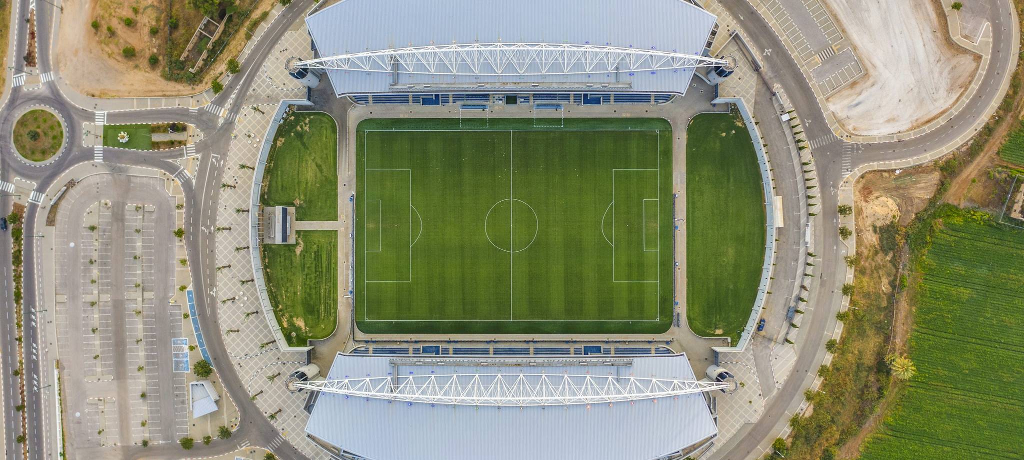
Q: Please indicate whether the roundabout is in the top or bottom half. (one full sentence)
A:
The roundabout sits in the top half of the picture.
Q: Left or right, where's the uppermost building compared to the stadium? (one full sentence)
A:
It is on the left side of the stadium that the uppermost building is positioned.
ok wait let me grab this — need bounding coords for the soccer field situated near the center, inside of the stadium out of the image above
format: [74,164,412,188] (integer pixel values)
[356,109,673,334]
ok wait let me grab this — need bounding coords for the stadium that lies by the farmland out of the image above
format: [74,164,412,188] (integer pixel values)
[249,0,784,460]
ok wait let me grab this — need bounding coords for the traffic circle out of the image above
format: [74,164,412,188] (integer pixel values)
[7,104,69,166]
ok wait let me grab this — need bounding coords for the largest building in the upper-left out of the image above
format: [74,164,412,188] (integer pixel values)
[180,14,231,75]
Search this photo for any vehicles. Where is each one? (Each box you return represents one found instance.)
[0,217,6,230]
[757,317,766,333]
